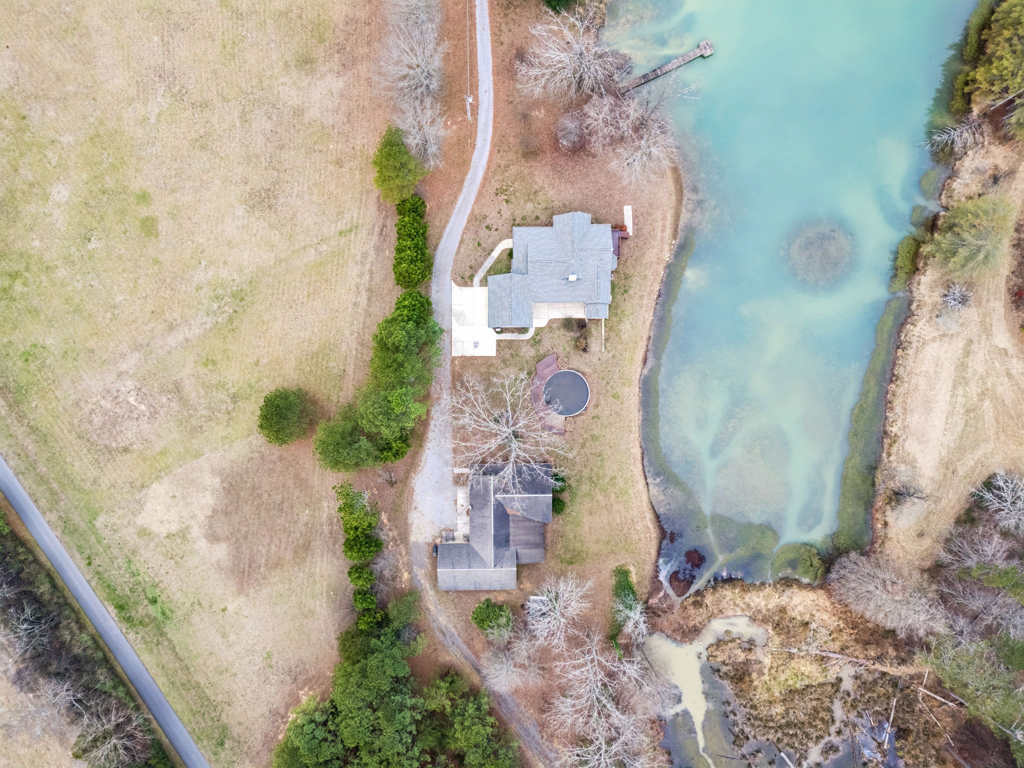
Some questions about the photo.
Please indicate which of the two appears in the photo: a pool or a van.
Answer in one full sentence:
This aerial view contains a pool.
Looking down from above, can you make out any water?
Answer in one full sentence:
Yes, water shows up in the scene.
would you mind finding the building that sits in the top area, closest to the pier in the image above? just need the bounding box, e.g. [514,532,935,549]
[488,209,617,328]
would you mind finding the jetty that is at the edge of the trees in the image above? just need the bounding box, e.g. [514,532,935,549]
[617,36,716,97]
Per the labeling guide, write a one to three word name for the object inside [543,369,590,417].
swimming pool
